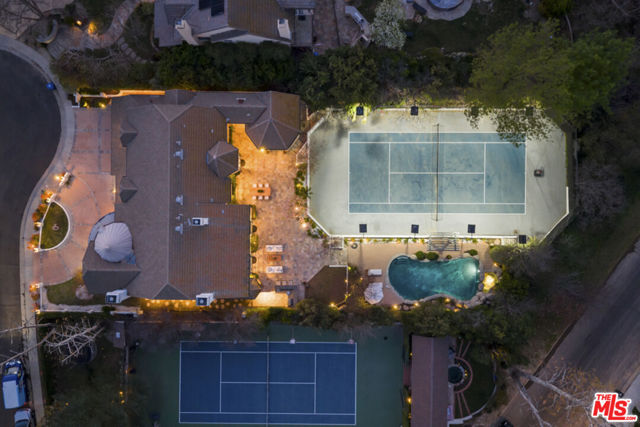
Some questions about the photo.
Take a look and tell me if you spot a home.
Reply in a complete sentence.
Yes, looking at the shot, I can spot a home.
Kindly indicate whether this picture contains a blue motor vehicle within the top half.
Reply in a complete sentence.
No, looking within the top half, there is no blue motor vehicle.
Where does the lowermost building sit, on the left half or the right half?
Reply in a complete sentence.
The lowermost building appears in the right half of the scene.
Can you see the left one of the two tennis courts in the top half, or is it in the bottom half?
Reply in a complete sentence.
The left one of the two tennis courts sits in the bottom half of the picture.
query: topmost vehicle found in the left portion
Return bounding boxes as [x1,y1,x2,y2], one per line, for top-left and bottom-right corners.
[2,357,31,412]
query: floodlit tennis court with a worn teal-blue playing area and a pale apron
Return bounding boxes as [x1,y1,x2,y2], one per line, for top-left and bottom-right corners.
[309,111,567,238]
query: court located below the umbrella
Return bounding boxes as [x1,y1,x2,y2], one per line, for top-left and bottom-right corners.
[131,323,402,427]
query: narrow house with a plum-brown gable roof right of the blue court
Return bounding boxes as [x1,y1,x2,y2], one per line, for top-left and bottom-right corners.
[411,333,448,427]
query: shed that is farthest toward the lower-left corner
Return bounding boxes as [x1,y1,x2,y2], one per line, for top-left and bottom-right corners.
[107,318,129,347]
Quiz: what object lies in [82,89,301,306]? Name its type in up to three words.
house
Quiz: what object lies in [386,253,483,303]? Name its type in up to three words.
swimming pool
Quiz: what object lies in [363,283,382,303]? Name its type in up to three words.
umbrella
